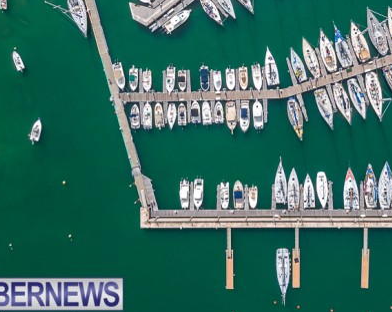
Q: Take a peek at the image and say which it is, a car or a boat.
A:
boat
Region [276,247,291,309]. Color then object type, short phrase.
white boat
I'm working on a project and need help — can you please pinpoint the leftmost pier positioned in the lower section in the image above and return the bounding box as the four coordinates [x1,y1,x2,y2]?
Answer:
[132,167,159,210]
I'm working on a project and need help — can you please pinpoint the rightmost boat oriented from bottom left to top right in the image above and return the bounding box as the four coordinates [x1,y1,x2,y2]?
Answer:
[165,8,194,35]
